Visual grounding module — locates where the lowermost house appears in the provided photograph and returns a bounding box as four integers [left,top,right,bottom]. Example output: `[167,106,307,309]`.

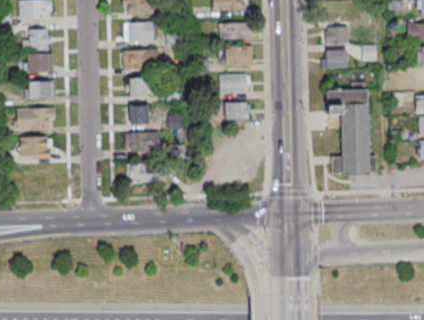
[126,162,159,181]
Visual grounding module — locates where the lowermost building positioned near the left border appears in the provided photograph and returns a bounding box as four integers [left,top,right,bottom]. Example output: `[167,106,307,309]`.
[20,136,53,156]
